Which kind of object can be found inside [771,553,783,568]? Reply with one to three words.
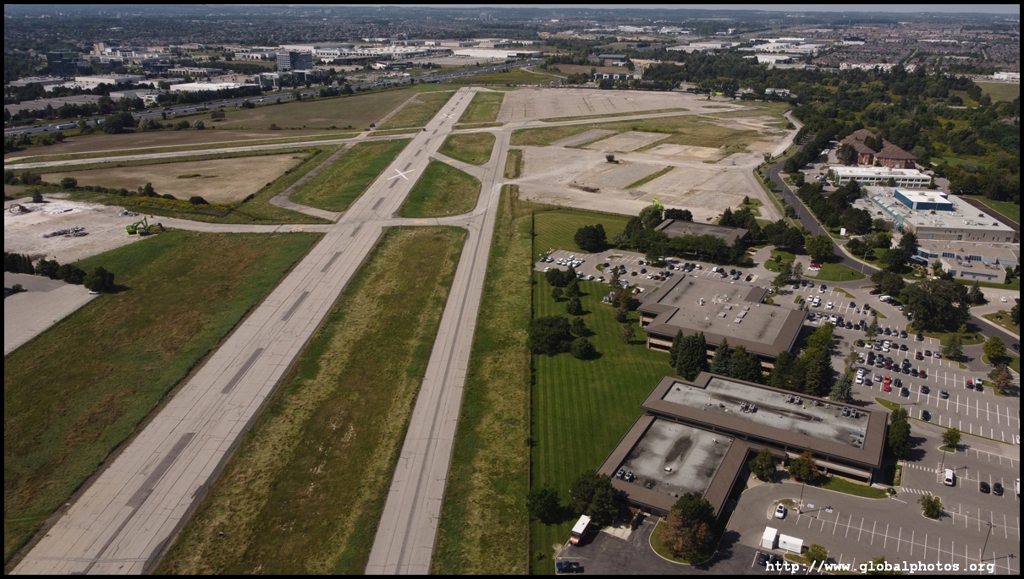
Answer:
vehicle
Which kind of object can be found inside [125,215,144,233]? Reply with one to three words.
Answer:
work vehicle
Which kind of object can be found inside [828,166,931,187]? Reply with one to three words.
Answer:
building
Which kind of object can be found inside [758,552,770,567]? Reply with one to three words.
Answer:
vehicle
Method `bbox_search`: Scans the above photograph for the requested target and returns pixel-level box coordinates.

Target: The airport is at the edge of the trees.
[0,87,793,579]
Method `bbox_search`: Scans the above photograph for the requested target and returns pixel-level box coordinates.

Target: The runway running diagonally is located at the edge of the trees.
[6,87,480,579]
